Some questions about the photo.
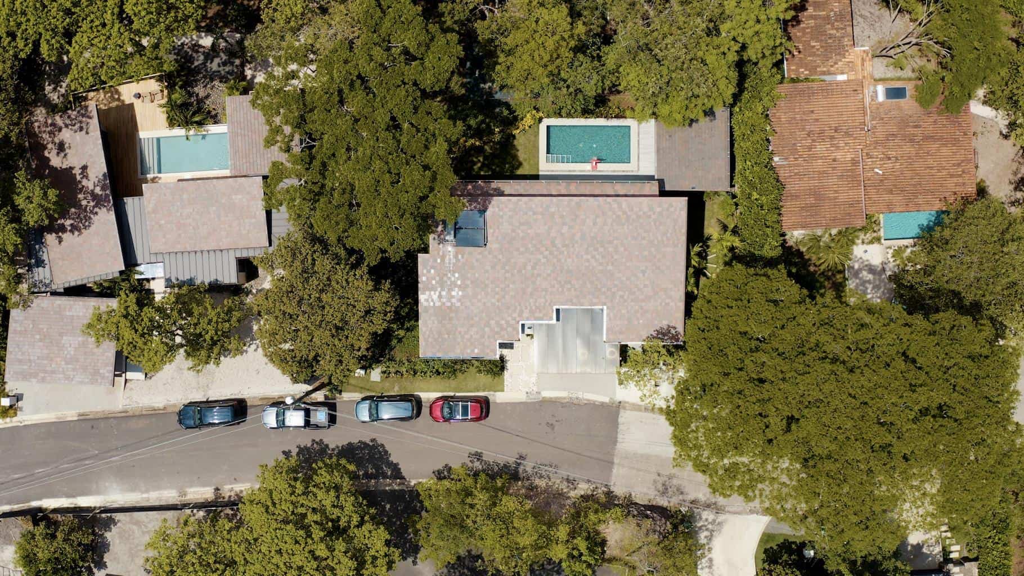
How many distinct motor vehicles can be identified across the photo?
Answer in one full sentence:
There are 4 motor vehicles in the image.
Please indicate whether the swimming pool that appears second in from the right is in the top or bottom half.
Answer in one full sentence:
You can find the swimming pool that appears second in from the right in the top half.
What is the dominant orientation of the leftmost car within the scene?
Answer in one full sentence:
The leftmost car runs from left to right in the image.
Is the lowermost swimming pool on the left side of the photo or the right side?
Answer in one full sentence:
It is on the right.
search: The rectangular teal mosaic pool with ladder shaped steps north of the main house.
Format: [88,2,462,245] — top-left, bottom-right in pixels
[539,118,638,172]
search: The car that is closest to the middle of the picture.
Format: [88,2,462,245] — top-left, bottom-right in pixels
[429,398,485,427]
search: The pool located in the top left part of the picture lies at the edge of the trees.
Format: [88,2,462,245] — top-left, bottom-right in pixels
[137,125,230,183]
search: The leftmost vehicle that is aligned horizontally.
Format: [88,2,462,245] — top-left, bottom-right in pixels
[175,397,239,427]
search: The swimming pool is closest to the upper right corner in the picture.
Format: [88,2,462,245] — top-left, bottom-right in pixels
[876,204,956,245]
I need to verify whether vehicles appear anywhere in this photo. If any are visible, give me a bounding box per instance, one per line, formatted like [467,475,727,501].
[429,398,485,427]
[353,398,417,427]
[175,397,239,427]
[260,400,331,429]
